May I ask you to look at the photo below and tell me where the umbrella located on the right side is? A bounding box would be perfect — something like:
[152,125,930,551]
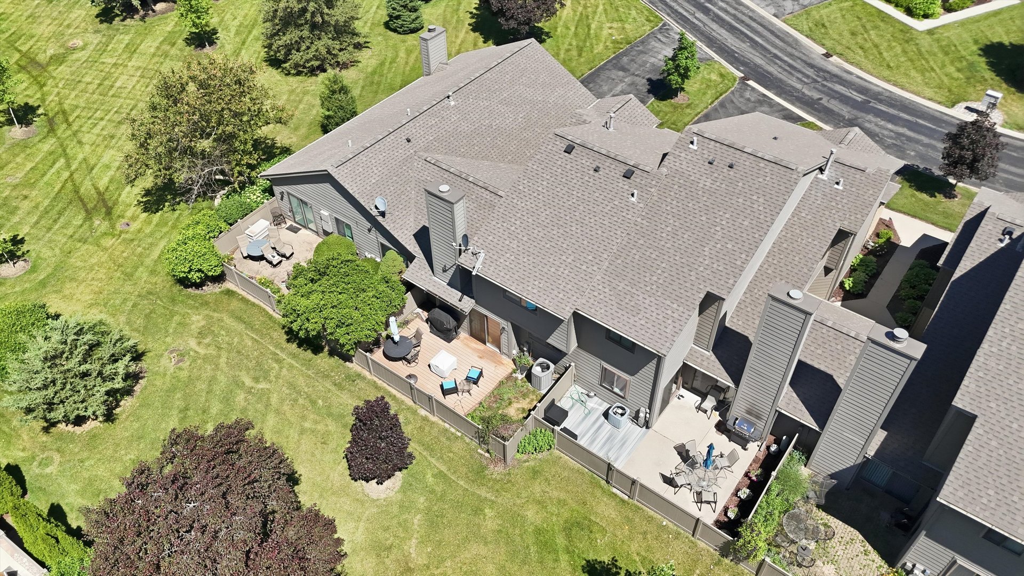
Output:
[697,446,715,488]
